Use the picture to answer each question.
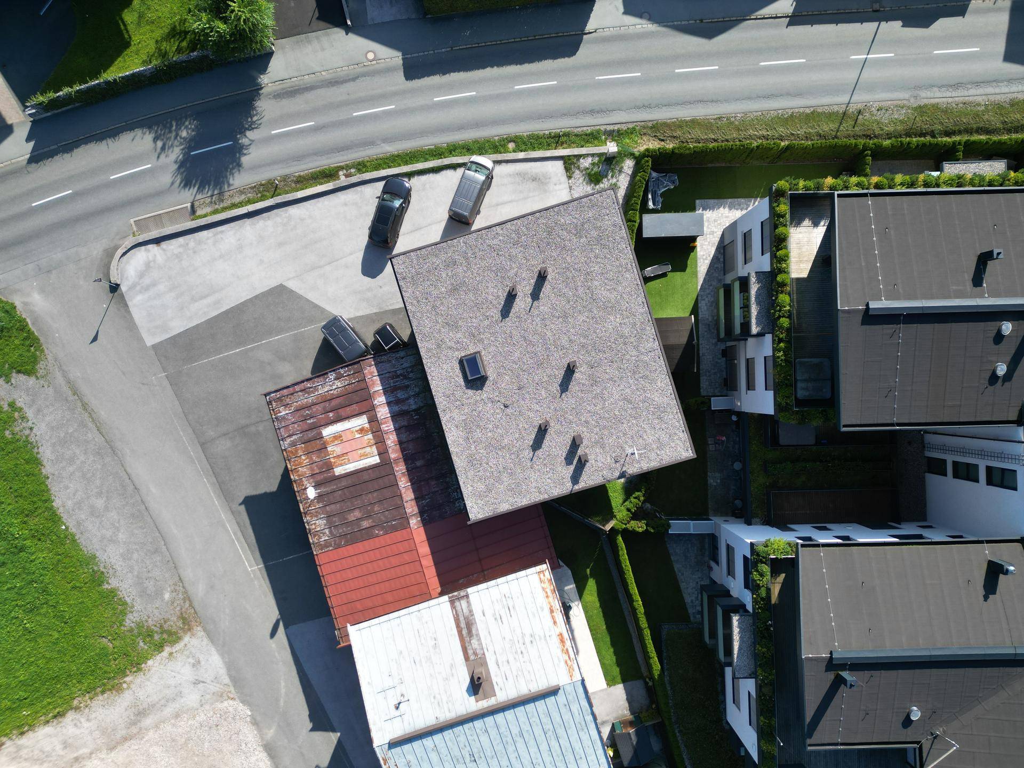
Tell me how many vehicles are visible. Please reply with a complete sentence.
The photo contains 4 vehicles.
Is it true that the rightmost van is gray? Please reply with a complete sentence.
Yes, the rightmost van is gray.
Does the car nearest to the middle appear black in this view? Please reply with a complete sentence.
Yes, black is the color of the car nearest to the middle.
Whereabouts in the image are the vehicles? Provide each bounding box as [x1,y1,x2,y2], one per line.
[375,321,416,354]
[364,176,409,252]
[448,152,494,228]
[322,315,378,365]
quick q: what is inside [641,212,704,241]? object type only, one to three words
shed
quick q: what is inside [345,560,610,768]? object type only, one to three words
house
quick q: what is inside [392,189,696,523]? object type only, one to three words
house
